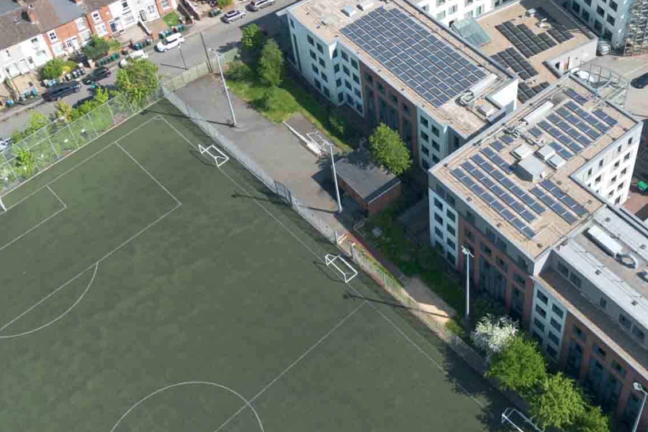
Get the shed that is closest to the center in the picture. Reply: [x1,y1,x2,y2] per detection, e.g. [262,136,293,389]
[330,151,401,219]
